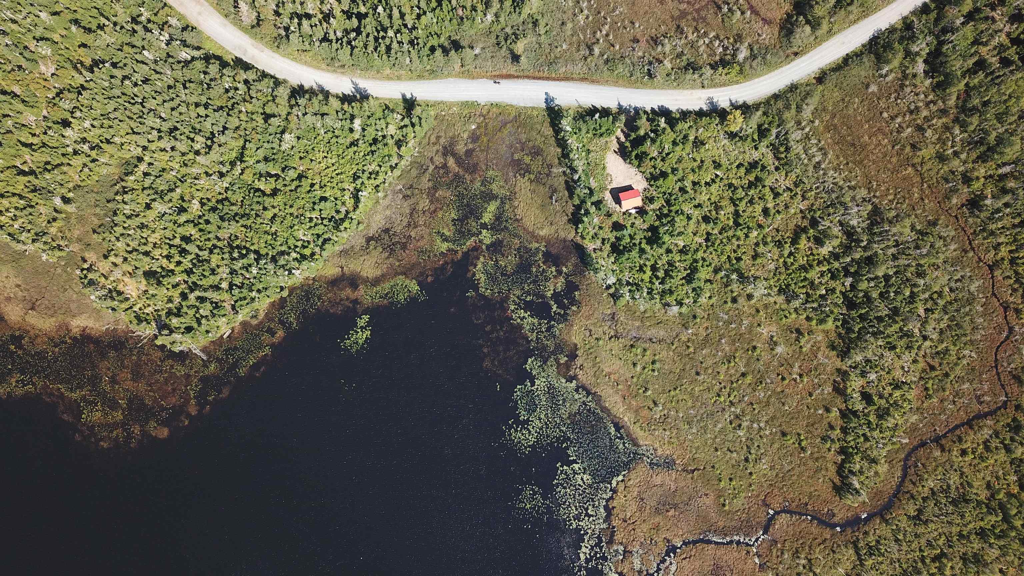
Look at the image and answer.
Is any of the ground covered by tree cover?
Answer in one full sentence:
Yes, the picture does contain tree cover.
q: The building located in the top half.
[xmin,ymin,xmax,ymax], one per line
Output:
[619,190,642,211]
